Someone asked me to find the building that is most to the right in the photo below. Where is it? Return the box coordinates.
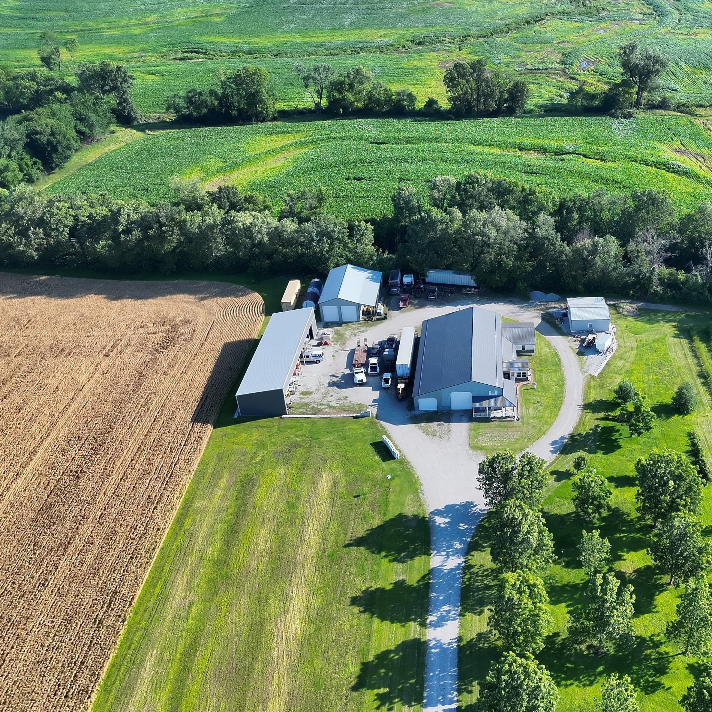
[568,298,611,332]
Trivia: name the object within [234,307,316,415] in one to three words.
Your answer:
shed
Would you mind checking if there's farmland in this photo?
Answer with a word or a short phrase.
Yes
